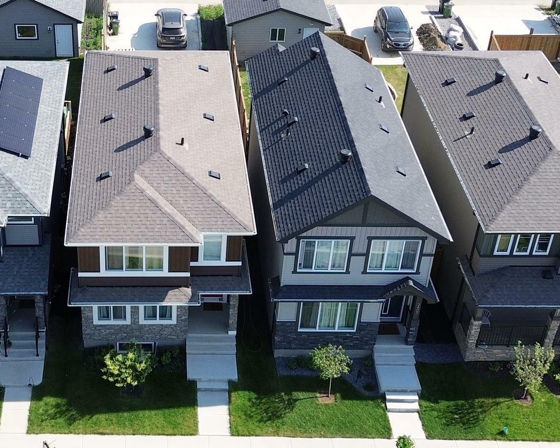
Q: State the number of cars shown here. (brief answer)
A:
2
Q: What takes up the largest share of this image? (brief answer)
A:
buildings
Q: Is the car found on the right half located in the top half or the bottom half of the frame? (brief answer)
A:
top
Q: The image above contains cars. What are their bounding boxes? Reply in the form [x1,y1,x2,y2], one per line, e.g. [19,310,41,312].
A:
[370,2,416,48]
[155,9,189,46]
